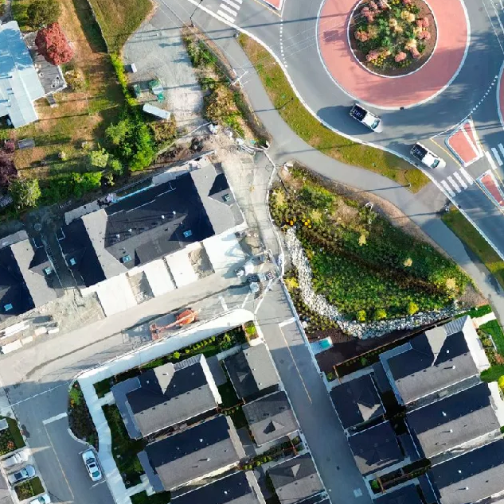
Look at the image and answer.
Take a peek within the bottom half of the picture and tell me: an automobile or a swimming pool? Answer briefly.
automobile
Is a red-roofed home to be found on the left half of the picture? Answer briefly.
No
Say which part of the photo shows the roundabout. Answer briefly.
top right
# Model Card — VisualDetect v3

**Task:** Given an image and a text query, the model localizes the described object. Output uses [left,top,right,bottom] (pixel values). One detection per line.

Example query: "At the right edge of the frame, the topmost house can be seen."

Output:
[377,313,491,405]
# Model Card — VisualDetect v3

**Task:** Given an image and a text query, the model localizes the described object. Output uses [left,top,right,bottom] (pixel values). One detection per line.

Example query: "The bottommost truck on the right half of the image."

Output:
[409,141,445,169]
